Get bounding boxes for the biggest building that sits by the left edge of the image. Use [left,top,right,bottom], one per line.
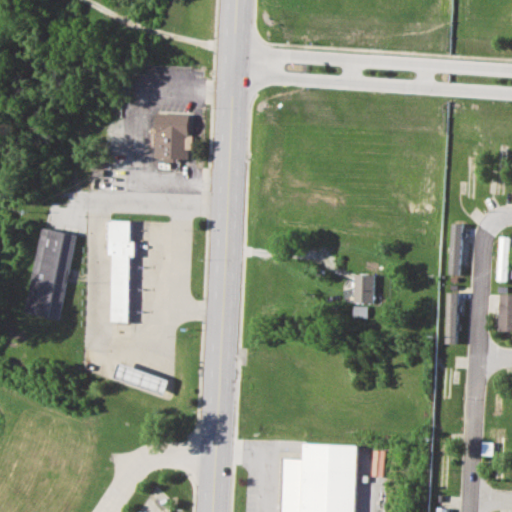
[23,230,74,322]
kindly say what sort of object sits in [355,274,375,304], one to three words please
house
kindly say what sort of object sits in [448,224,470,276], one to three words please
house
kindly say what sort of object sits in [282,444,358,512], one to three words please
building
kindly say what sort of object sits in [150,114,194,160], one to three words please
building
